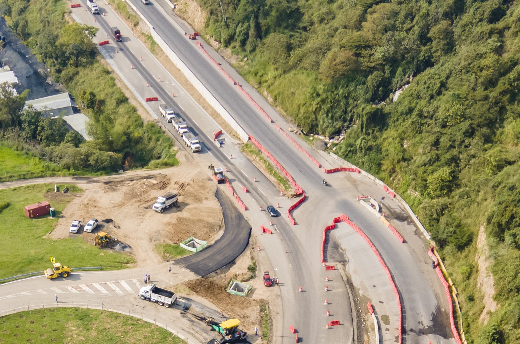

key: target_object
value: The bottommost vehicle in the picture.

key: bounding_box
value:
[139,282,182,306]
